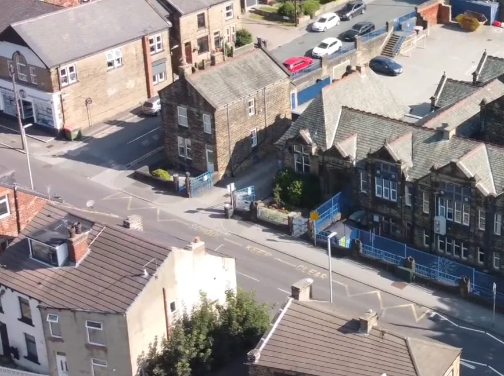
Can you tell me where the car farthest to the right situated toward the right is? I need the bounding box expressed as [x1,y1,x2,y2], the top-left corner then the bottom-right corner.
[376,53,405,73]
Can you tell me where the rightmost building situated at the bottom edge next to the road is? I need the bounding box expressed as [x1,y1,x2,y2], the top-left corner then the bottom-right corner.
[246,247,466,376]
